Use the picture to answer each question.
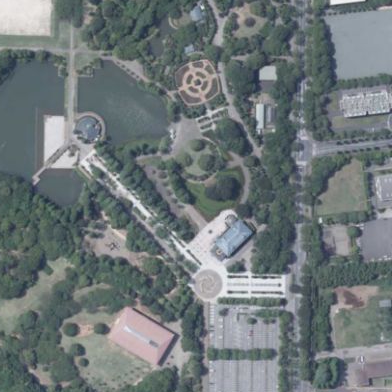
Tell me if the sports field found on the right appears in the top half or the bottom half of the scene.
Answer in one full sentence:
The top half of the photo is where the sports field found on the right is.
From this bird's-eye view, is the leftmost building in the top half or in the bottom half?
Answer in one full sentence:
The bottom half of the photo is where the leftmost building is.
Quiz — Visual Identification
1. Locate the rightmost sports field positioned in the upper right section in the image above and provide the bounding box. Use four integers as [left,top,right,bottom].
[328,11,392,80]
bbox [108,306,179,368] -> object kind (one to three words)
building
